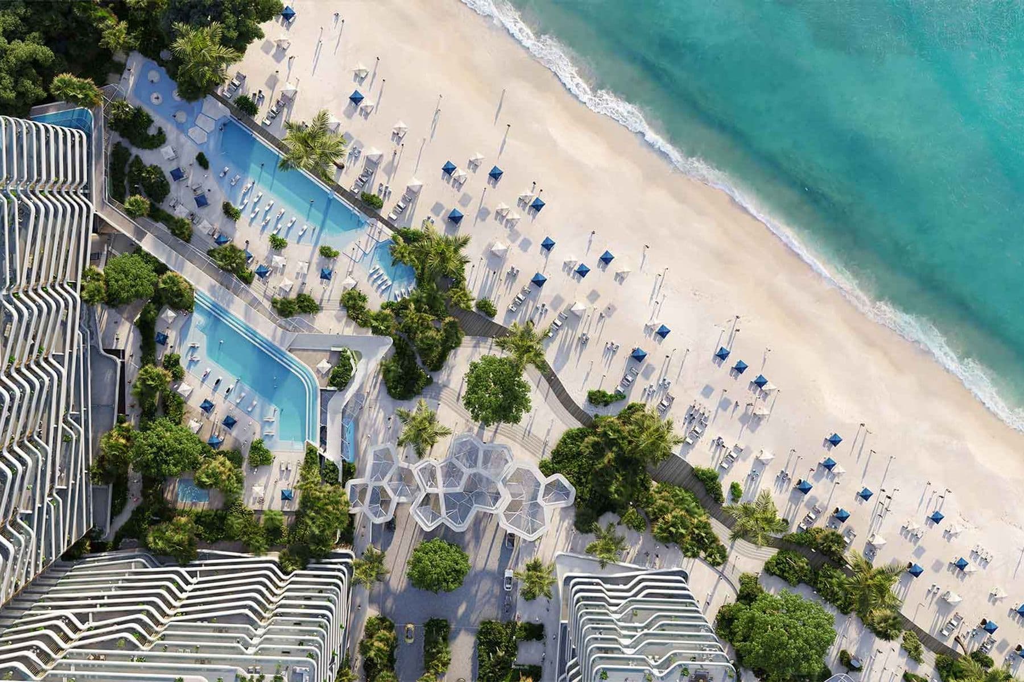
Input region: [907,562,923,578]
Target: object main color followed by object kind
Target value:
blue umbrella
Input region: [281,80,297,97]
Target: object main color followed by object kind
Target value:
white umbrella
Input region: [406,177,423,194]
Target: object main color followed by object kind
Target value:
white umbrella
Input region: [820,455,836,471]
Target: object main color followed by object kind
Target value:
blue umbrella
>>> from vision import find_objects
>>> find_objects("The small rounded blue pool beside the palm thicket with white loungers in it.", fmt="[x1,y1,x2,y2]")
[342,232,416,298]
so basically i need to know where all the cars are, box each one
[405,623,415,643]
[503,570,514,591]
[505,530,515,551]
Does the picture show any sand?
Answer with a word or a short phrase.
Yes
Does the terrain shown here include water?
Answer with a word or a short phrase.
Yes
